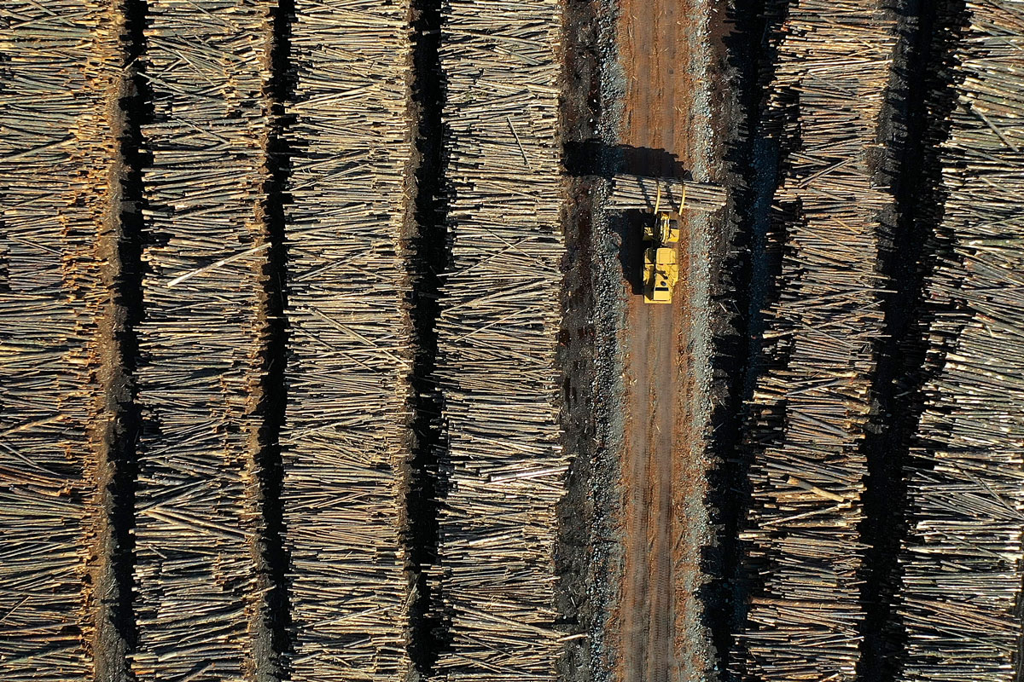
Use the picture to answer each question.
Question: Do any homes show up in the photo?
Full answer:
No, there appears to be no home in this shot.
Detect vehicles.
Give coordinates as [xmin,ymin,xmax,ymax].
[639,176,684,305]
